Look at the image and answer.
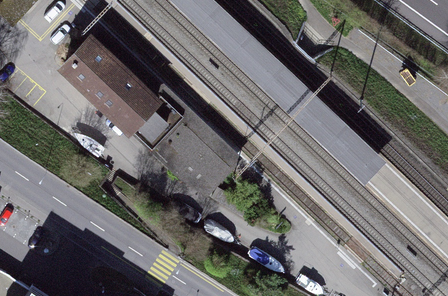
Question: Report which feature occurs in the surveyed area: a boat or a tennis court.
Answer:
boat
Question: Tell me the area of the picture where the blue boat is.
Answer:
bottom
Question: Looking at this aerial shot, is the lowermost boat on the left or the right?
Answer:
right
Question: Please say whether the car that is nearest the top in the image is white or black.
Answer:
white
